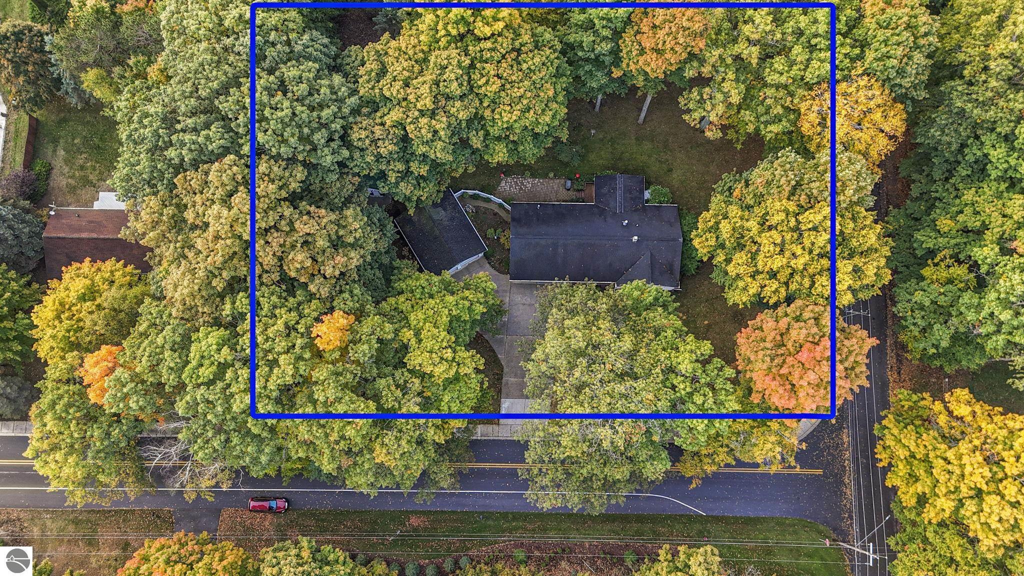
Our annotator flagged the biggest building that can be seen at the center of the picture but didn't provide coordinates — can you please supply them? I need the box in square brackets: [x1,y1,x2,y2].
[510,174,684,293]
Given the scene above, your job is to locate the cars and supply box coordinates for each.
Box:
[249,496,291,515]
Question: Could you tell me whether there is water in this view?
No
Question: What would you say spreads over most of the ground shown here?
trees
